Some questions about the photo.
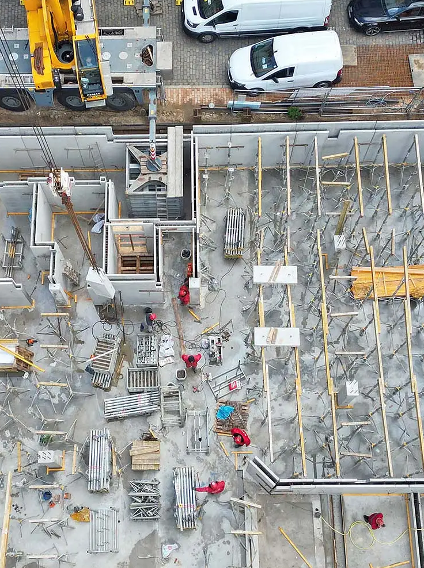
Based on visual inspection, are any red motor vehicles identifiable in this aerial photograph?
No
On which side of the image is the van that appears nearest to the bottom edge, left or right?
right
